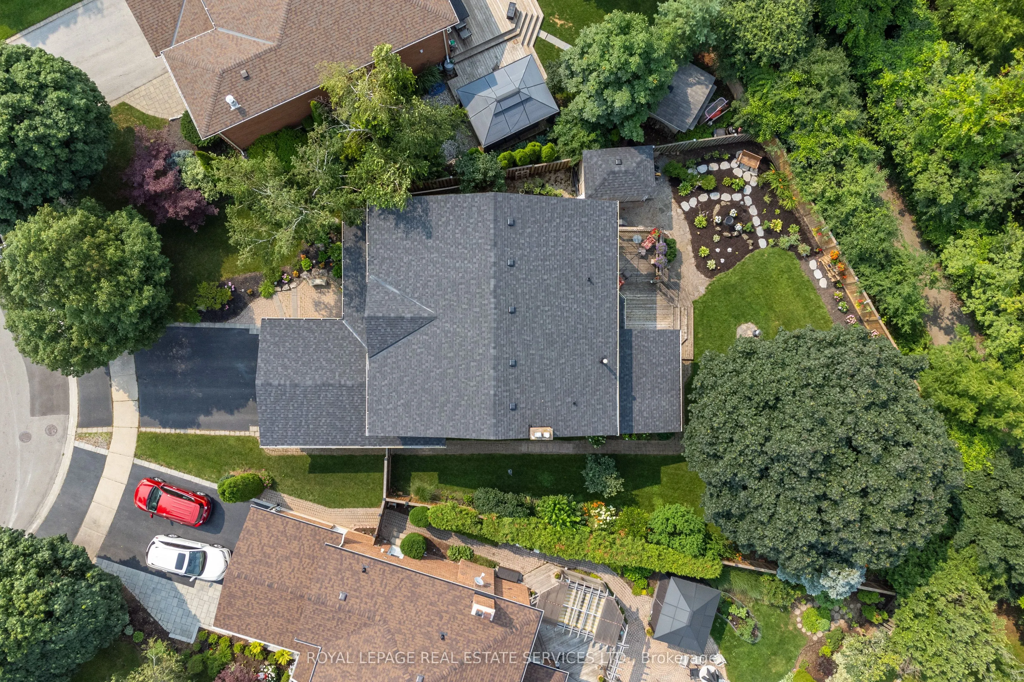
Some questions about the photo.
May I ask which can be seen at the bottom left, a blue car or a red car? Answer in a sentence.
The feature located at the bottom left is a red car.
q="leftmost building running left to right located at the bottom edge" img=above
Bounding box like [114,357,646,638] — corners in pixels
[213,497,571,682]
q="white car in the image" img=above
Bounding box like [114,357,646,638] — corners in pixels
[144,532,231,583]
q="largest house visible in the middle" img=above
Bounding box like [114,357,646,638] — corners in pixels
[254,192,684,449]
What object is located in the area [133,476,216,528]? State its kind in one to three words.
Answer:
car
